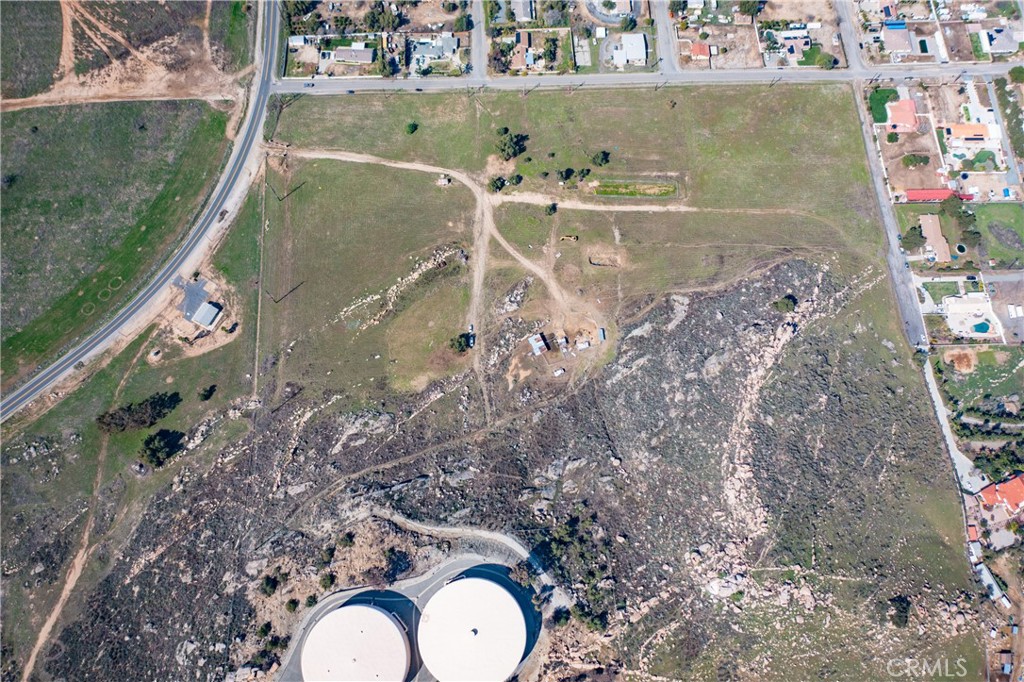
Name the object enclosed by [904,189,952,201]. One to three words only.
building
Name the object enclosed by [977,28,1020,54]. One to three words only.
house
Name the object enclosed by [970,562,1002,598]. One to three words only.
barn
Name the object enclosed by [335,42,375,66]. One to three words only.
house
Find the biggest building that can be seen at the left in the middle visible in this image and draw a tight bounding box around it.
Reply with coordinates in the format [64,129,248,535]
[192,301,222,328]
